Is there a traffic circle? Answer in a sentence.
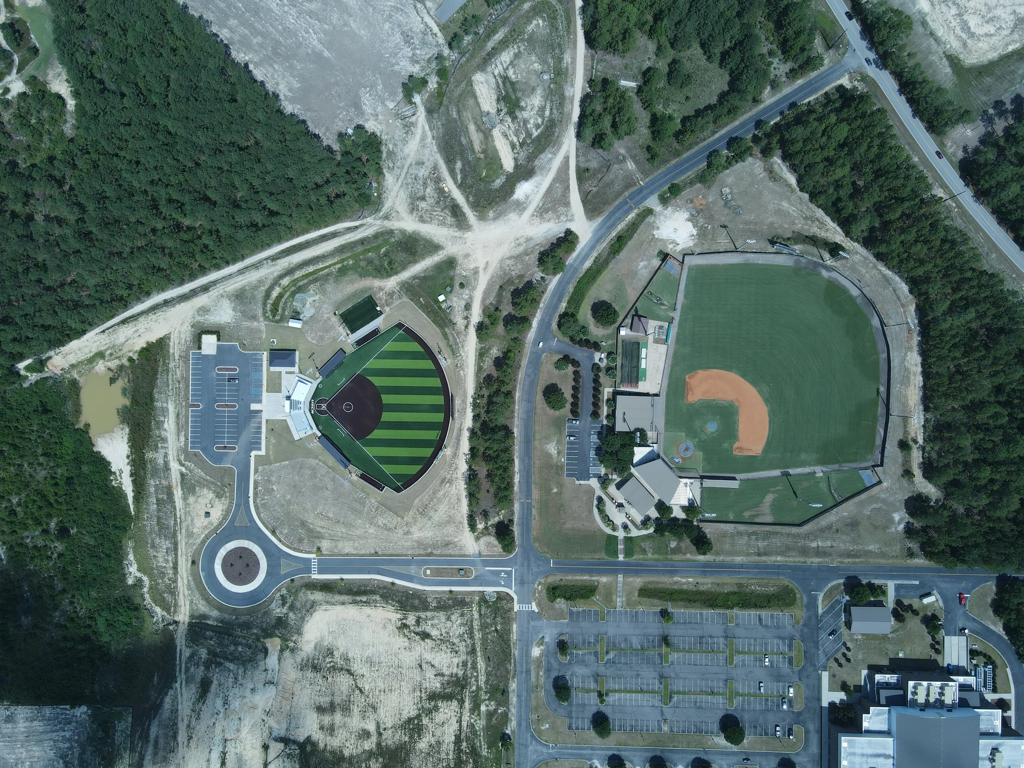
Yes, I can see a traffic circle in this picture.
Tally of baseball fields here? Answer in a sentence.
The photo contains 2 baseball fields.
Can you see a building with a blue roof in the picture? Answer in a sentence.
Yes, the picture does show a building with a blue roof.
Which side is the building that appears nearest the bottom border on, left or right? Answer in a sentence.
The building that appears nearest the bottom border appears in the right half of the scene.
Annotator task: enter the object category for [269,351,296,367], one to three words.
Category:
building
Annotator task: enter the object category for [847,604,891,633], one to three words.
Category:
shed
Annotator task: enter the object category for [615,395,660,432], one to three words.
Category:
building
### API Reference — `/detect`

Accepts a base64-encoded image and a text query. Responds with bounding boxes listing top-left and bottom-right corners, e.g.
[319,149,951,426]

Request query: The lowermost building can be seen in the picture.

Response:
[833,670,1024,768]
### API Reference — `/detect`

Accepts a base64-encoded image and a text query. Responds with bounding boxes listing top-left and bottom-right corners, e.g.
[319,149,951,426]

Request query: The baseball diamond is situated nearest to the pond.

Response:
[309,322,450,493]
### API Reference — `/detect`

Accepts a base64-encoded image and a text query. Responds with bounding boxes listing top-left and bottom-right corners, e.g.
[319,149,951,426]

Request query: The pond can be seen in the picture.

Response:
[76,369,130,444]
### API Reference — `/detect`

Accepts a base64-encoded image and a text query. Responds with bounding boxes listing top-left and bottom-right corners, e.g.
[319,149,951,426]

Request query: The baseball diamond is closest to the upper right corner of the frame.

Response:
[660,253,889,480]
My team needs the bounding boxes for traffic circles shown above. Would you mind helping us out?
[213,540,267,594]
